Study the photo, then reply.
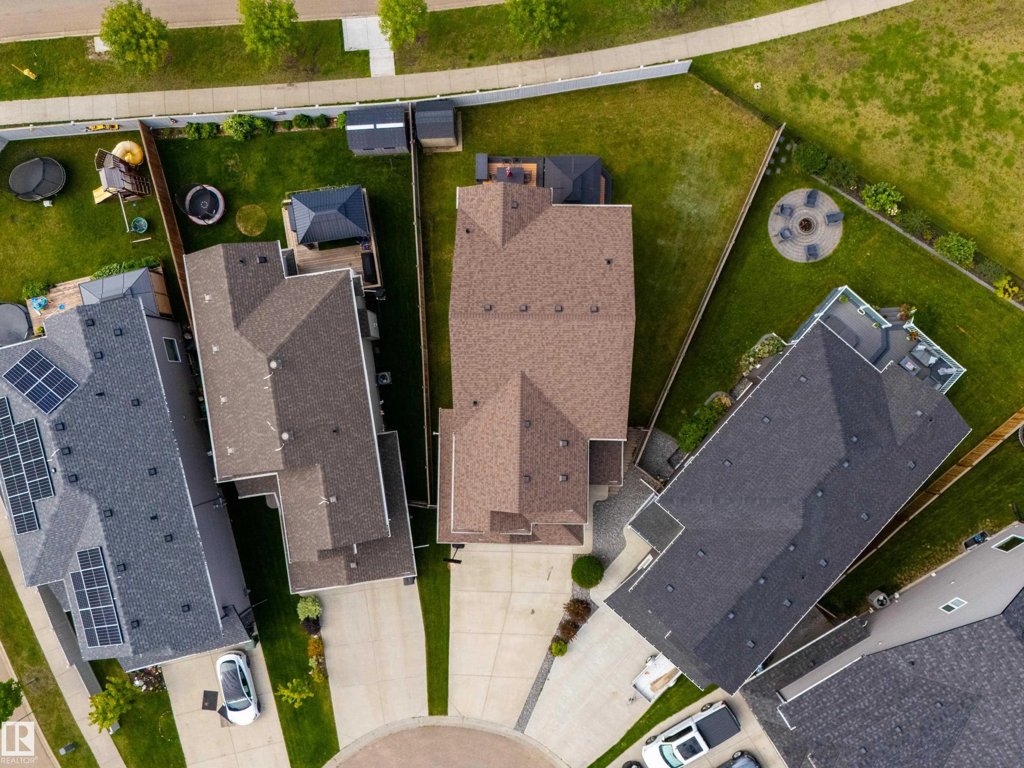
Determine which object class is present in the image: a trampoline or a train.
trampoline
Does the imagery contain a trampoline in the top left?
Yes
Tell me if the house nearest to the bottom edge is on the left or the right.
right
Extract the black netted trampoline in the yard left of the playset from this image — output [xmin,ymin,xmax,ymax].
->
[17,157,74,206]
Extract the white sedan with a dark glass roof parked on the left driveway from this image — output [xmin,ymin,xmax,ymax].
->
[210,654,260,733]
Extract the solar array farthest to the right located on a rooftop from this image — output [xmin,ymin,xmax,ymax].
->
[67,548,121,649]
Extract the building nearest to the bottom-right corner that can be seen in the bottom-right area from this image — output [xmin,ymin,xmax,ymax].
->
[747,533,1024,768]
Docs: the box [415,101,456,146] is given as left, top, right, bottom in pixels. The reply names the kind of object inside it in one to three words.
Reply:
shed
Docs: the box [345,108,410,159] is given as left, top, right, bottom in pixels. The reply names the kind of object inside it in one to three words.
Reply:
shed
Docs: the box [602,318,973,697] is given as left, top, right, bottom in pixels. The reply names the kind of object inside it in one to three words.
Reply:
house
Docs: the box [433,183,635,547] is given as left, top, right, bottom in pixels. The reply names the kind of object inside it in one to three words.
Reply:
house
